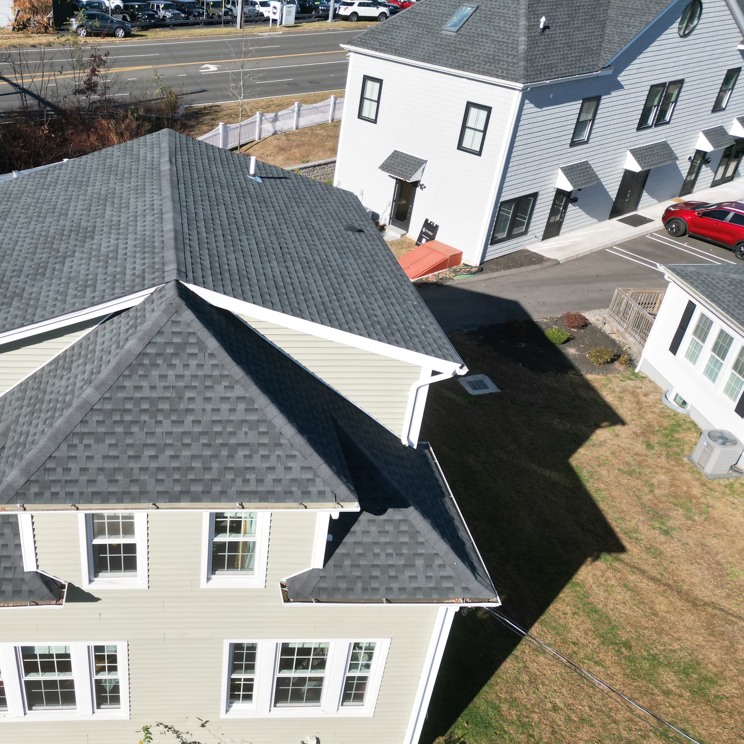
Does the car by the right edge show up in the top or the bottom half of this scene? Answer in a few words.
top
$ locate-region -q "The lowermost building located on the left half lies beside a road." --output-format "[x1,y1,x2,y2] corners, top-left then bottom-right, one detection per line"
[0,127,503,744]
